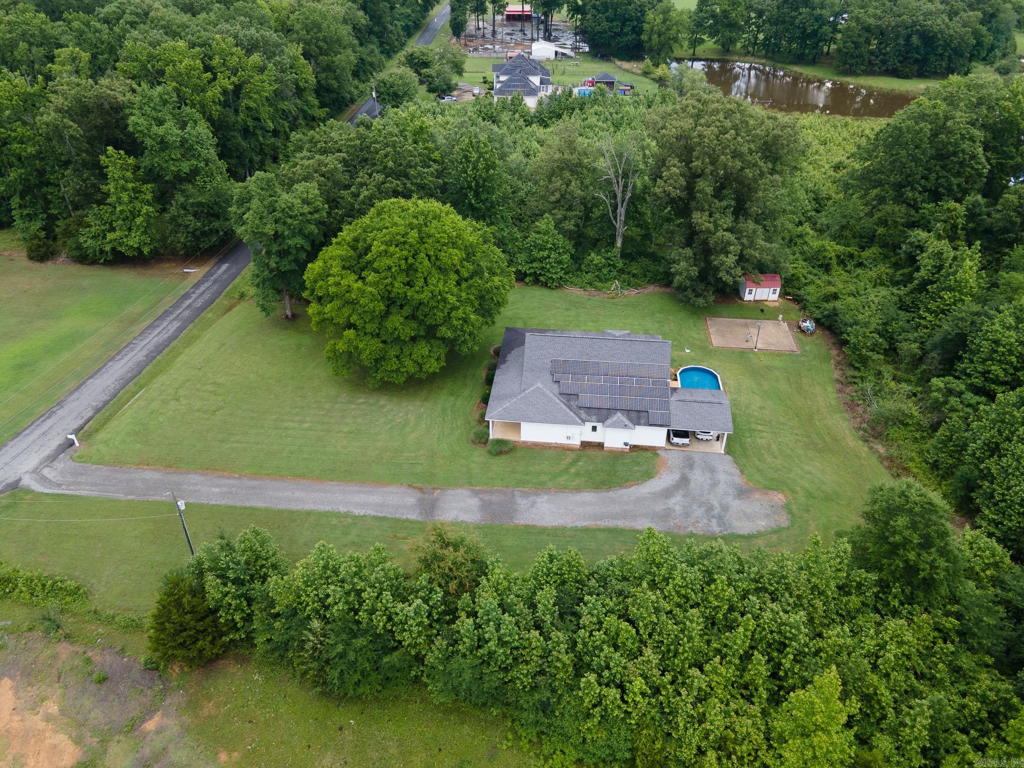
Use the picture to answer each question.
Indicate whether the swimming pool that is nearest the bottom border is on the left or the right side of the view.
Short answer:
right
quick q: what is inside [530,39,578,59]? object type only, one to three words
barn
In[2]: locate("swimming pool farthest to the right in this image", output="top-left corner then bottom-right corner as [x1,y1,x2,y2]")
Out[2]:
[676,365,723,392]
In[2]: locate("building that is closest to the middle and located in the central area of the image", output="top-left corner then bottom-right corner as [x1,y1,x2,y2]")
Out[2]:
[485,328,734,454]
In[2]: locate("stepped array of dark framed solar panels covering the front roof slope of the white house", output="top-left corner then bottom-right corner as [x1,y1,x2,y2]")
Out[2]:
[551,357,671,425]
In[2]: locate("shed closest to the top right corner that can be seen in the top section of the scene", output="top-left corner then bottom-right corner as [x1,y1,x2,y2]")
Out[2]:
[738,273,782,300]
